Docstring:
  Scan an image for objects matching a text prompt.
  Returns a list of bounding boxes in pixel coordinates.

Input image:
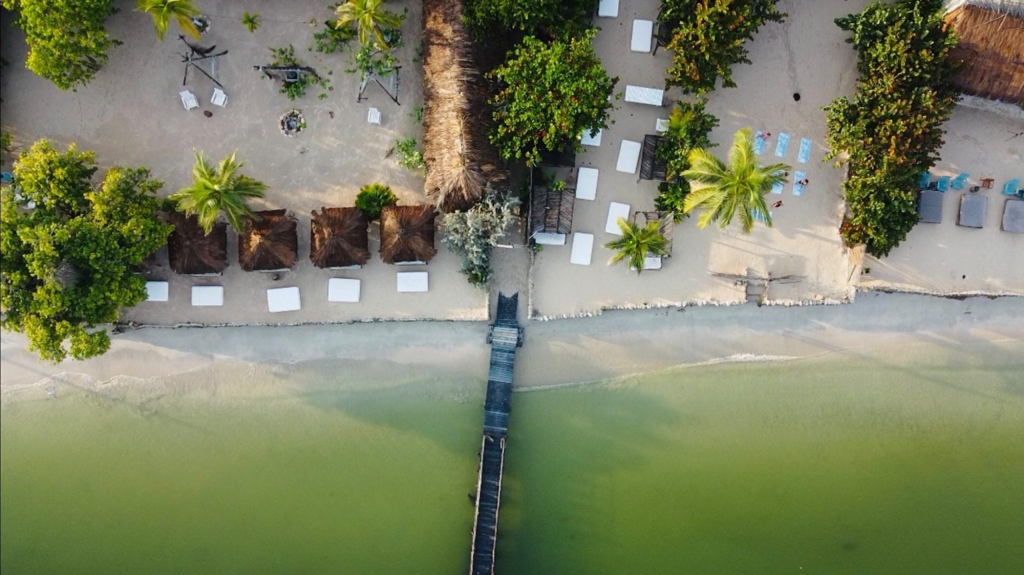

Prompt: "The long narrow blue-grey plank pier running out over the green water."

[467,293,524,575]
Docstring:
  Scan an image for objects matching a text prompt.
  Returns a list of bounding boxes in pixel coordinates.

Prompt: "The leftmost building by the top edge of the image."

[419,0,505,216]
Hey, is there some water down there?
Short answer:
Yes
